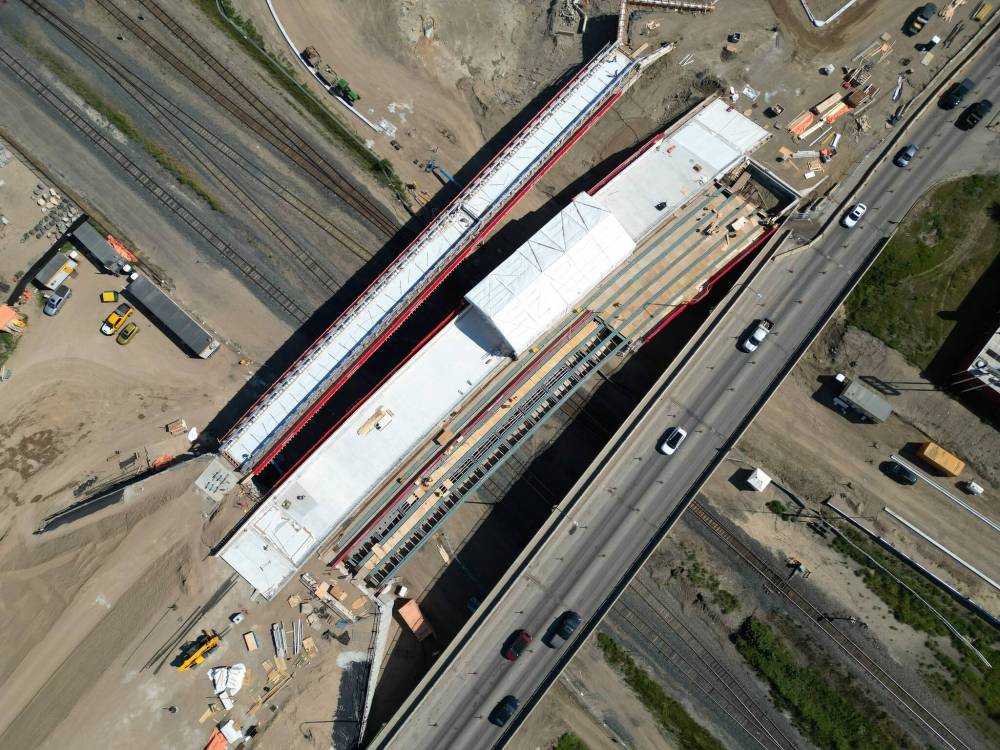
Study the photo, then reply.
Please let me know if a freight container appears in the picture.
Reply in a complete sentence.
Yes, there is a freight container in the image.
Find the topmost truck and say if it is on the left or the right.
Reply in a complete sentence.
It is on the right.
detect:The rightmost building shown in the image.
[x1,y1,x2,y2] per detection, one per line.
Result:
[950,302,1000,408]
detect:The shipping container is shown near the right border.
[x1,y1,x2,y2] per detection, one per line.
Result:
[913,440,966,477]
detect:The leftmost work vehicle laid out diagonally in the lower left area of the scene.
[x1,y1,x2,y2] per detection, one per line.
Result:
[174,623,225,674]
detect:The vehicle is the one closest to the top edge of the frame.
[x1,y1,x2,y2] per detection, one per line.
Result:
[908,0,940,35]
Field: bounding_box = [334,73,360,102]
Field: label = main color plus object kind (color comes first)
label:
green work vehicle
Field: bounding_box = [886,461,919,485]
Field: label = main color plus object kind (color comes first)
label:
black car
